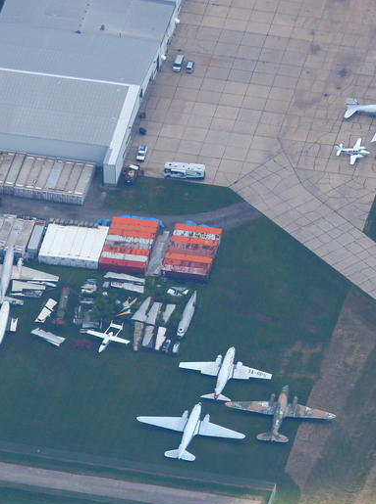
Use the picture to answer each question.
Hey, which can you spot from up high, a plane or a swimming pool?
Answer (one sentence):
I can see a plane in this picture.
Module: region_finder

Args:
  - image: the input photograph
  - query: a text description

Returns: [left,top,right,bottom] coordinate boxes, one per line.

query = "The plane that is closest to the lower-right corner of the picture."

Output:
[224,386,337,442]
